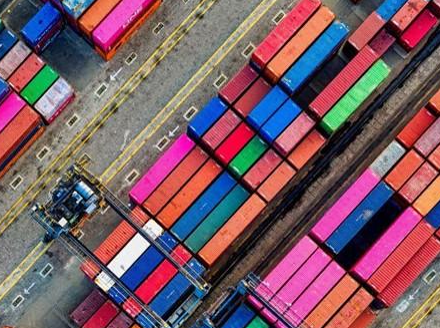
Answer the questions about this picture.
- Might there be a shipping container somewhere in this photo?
Yes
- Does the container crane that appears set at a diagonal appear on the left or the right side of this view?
left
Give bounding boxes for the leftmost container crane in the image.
[28,161,216,328]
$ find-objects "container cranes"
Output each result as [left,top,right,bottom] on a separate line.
[28,161,216,328]
[196,276,311,328]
